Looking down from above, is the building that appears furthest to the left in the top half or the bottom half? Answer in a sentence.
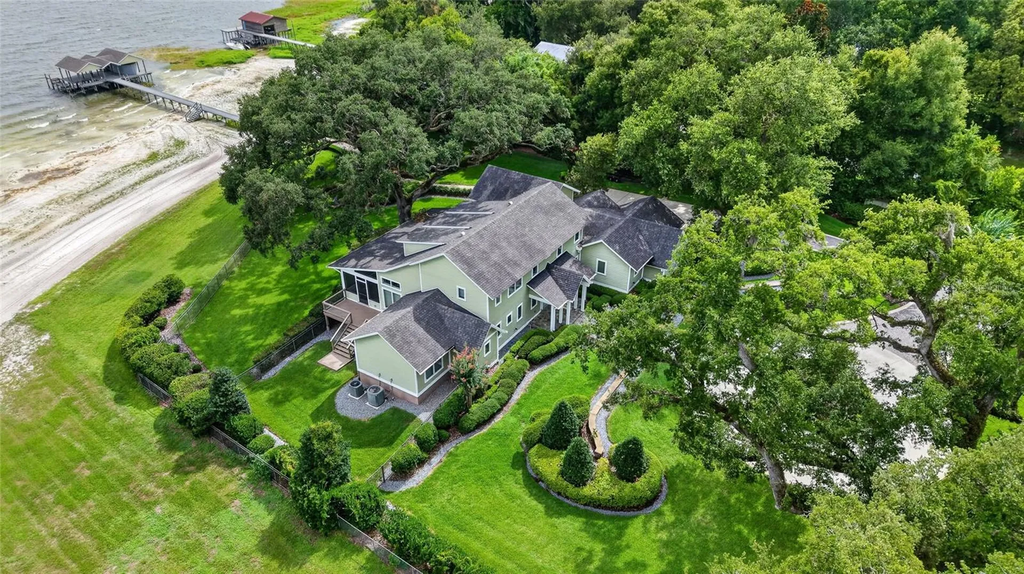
Seen from above, the building that appears furthest to the left lies in the top half of the view.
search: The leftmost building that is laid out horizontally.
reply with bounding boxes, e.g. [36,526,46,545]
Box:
[55,47,154,96]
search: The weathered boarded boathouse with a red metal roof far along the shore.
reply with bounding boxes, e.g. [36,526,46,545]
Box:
[221,11,293,43]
